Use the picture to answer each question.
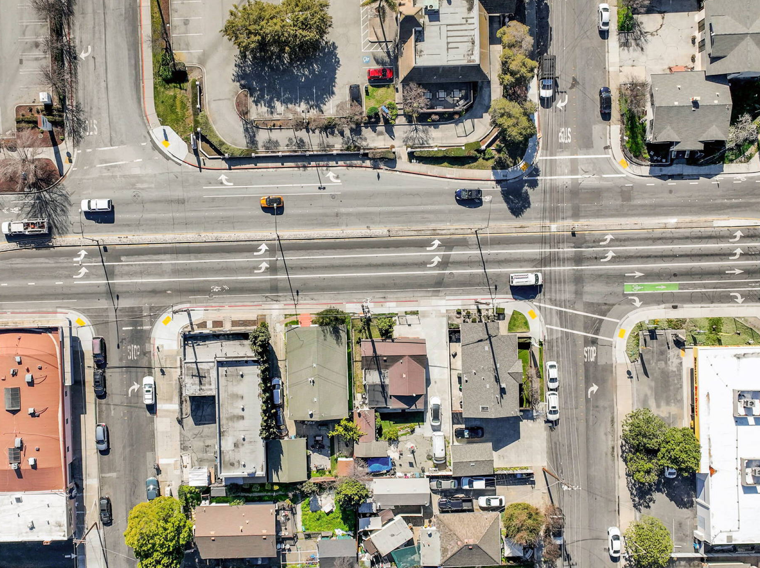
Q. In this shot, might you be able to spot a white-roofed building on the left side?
Yes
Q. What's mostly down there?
paved ground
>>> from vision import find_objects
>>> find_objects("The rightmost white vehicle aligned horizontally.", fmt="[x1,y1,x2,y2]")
[508,271,542,287]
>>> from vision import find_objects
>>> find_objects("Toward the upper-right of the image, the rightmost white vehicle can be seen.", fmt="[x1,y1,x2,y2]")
[596,3,612,32]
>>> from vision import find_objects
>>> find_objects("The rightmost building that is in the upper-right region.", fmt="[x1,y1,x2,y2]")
[688,0,760,84]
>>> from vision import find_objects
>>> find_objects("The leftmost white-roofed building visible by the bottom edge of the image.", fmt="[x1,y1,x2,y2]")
[0,493,75,546]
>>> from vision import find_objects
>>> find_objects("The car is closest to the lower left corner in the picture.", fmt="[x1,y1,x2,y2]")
[98,495,113,523]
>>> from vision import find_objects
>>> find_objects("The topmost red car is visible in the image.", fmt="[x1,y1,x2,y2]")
[366,65,394,81]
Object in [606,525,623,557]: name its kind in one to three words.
car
